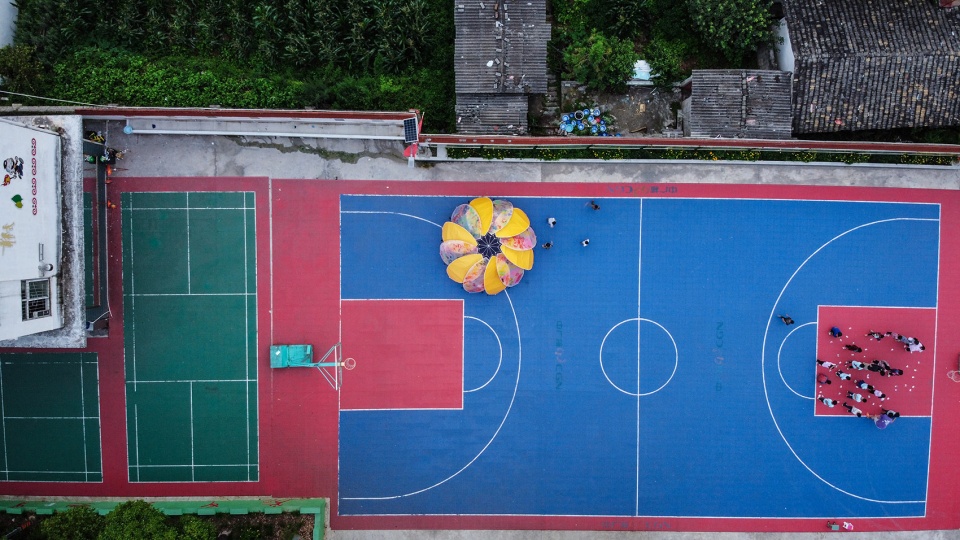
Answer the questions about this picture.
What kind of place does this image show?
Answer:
sports ground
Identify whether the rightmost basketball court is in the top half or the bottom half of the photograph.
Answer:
bottom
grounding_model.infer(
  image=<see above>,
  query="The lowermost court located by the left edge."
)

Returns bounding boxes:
[0,352,103,483]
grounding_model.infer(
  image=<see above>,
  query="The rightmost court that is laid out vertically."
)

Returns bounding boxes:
[121,191,259,483]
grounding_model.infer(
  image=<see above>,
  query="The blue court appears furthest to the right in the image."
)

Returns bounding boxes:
[272,179,960,532]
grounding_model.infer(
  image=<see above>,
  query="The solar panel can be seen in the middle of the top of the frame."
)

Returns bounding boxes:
[405,118,417,141]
